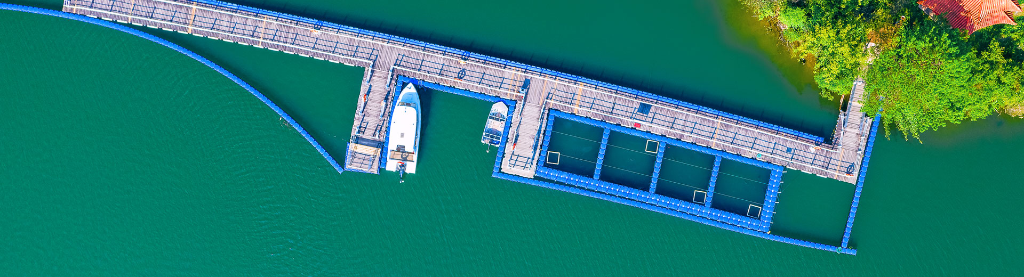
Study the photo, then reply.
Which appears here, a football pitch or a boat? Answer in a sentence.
There is a boat in the scene.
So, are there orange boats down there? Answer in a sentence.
No, I can't see a single orange boat in this photo.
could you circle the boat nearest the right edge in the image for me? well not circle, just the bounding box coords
[481,101,508,152]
